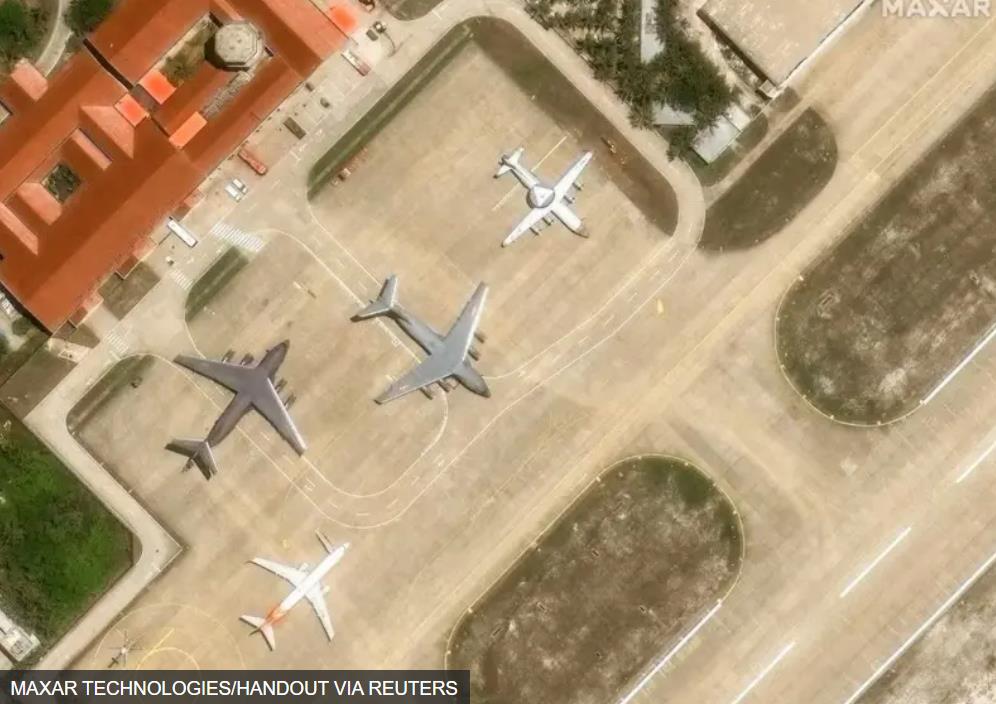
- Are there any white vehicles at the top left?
Yes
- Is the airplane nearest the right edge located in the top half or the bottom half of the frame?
top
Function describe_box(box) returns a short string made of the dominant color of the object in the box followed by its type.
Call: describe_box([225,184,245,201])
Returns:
white vehicle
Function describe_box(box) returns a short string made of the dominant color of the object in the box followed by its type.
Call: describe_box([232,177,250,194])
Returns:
white vehicle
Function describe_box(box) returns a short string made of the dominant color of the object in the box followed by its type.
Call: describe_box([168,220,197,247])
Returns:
white bus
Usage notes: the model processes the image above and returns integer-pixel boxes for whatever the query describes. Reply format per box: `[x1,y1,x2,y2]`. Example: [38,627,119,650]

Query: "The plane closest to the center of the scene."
[351,269,489,400]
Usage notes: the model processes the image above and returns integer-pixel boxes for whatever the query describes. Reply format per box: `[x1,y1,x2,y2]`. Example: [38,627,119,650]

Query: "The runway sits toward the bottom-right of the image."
[623,331,996,704]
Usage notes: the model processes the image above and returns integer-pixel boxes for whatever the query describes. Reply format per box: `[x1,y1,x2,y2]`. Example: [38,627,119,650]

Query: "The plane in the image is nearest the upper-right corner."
[493,146,589,246]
